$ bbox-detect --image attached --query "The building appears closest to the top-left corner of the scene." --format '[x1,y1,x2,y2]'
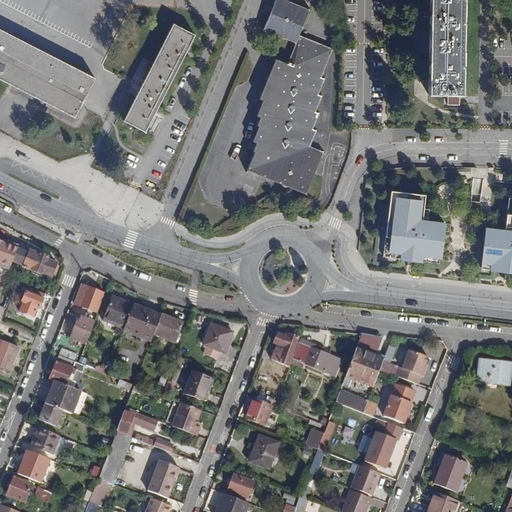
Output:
[0,29,96,118]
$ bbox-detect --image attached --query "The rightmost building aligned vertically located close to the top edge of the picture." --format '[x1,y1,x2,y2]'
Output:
[430,0,467,100]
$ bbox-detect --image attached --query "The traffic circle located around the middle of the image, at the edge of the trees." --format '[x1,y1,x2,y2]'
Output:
[239,228,327,316]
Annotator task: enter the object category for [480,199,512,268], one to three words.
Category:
building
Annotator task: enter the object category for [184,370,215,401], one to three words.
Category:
house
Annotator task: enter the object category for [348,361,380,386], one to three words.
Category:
house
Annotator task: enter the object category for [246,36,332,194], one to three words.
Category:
building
